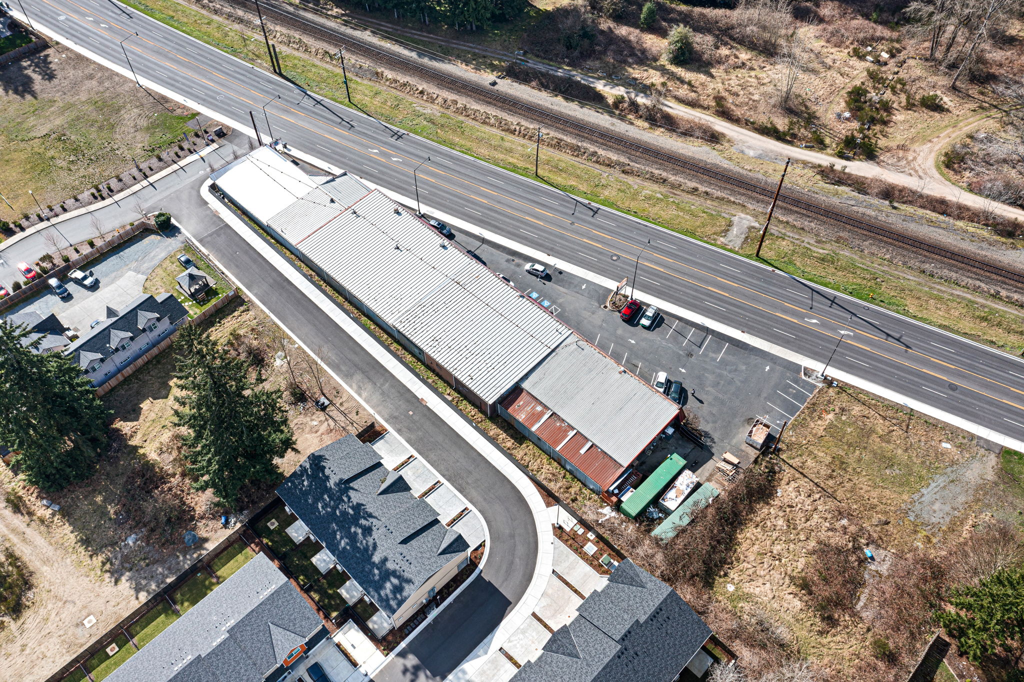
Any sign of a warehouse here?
Yes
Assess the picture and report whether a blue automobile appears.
Yes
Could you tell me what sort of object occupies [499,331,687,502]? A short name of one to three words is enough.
shed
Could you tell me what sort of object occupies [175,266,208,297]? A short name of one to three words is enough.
gazebo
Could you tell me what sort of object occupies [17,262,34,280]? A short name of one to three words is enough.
car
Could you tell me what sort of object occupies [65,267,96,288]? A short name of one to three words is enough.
truck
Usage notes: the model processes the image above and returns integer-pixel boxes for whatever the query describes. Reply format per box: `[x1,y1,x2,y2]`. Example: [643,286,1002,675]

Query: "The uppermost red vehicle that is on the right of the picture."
[620,299,640,322]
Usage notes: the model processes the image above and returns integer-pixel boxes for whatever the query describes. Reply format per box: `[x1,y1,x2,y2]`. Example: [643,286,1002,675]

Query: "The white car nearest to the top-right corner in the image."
[639,304,659,328]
